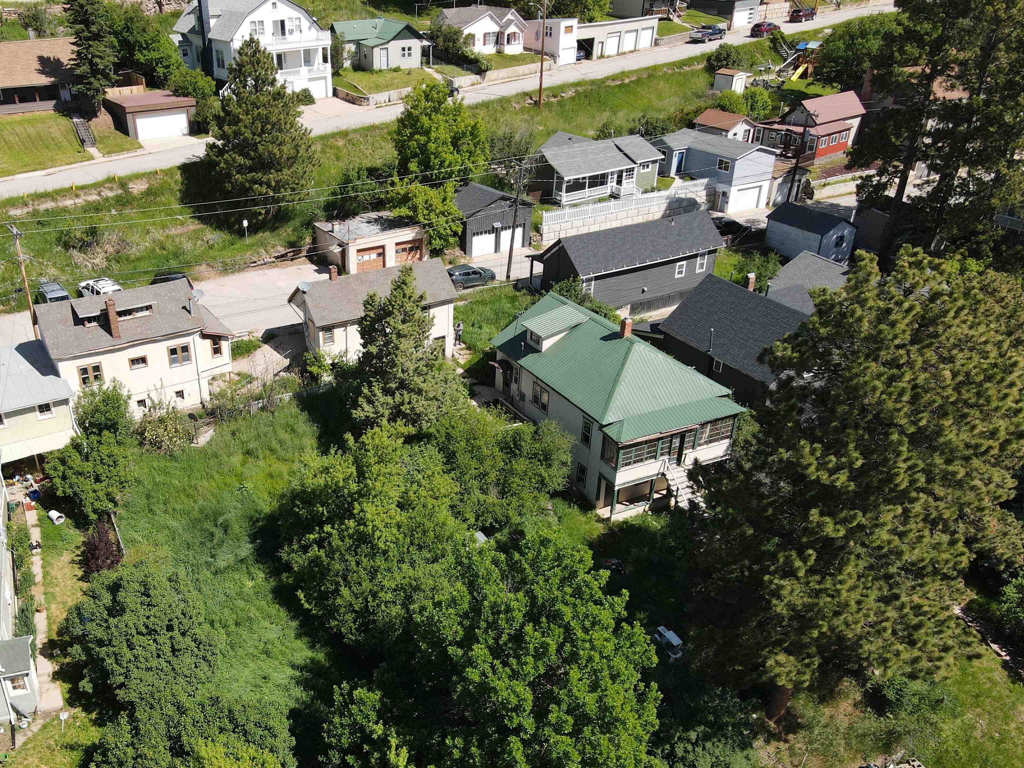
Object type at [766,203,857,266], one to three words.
shed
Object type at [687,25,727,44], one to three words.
vehicle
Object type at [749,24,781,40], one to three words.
car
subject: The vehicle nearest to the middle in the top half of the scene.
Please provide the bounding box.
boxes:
[446,263,502,291]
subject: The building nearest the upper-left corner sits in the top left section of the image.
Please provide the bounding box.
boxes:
[0,43,108,126]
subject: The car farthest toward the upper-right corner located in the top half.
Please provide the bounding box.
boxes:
[789,8,816,22]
